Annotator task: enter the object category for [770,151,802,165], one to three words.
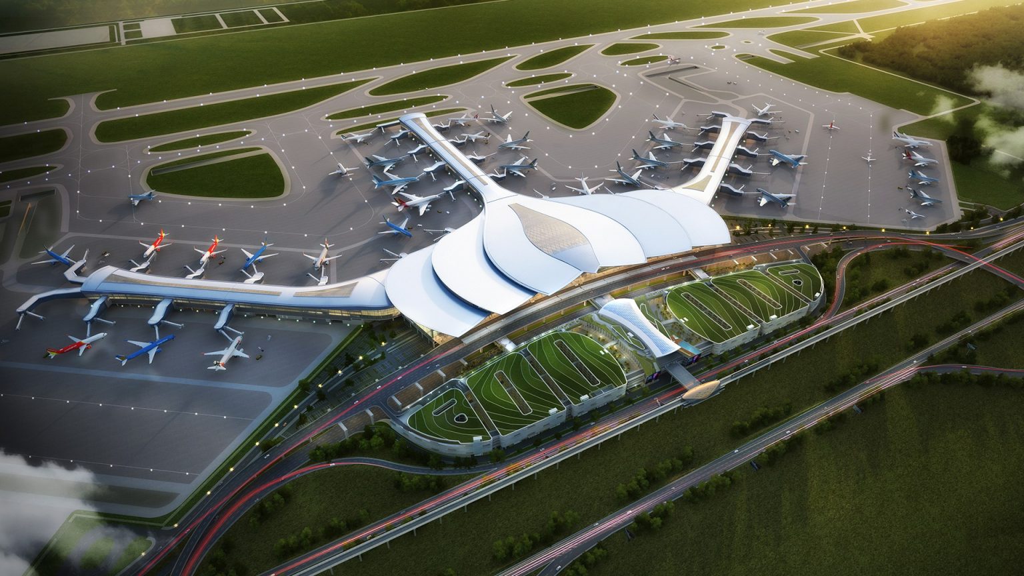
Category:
airplane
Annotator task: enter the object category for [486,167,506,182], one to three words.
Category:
jet bridge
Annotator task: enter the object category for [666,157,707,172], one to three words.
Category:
jet bridge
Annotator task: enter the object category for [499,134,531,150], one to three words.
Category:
airplane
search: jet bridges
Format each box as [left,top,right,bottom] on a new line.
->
[748,116,787,127]
[447,134,468,147]
[383,130,414,147]
[486,167,506,182]
[727,163,772,178]
[696,111,730,120]
[735,146,774,159]
[84,298,118,339]
[379,247,405,263]
[467,150,498,164]
[680,141,716,153]
[398,144,431,163]
[719,183,763,198]
[743,131,781,144]
[368,121,401,134]
[62,247,90,286]
[215,306,246,344]
[15,288,85,331]
[238,261,267,285]
[435,180,467,203]
[182,257,210,281]
[684,125,722,136]
[305,264,330,286]
[415,161,448,182]
[127,250,158,275]
[638,179,669,190]
[432,119,451,132]
[151,301,186,342]
[666,157,707,172]
[532,188,548,198]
